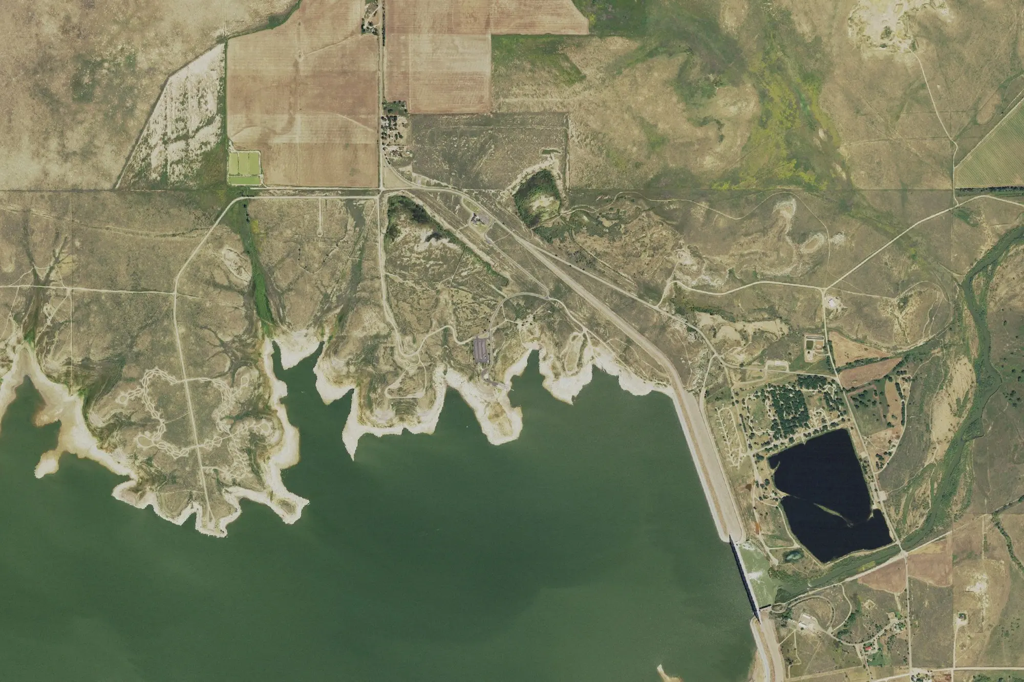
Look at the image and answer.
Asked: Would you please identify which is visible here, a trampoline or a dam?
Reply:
dam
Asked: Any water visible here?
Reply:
Yes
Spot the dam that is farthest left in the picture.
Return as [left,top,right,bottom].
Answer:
[521,235,742,542]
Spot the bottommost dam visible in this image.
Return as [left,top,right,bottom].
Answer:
[751,617,786,682]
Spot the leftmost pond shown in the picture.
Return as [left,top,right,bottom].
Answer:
[0,340,760,682]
